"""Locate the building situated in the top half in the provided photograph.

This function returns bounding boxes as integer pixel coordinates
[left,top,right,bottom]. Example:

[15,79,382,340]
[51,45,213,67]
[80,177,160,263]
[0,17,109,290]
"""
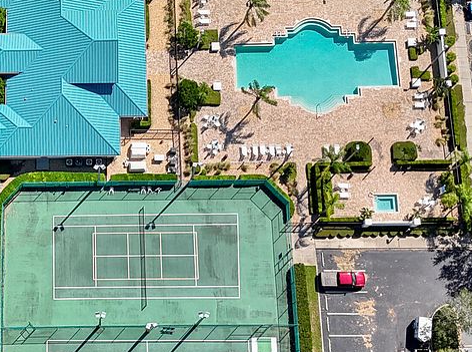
[0,0,148,158]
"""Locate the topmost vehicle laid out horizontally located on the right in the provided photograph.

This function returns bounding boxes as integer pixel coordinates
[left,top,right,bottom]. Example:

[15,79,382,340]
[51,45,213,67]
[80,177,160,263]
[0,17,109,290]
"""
[318,270,365,289]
